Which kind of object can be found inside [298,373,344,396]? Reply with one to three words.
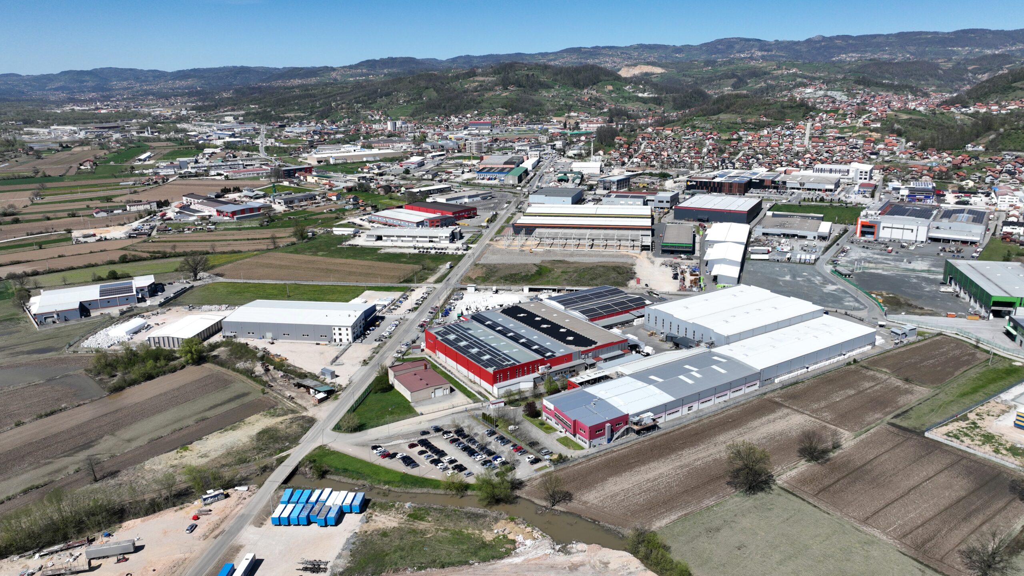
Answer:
shed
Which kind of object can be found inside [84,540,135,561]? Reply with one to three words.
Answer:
trailer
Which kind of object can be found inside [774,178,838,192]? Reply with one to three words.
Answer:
building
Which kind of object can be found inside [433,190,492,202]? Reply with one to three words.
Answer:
building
